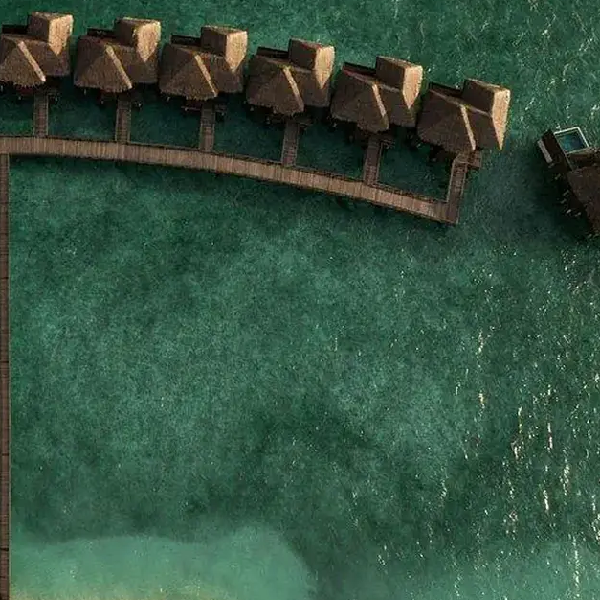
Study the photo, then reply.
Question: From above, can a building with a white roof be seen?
No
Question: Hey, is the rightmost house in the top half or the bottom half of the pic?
top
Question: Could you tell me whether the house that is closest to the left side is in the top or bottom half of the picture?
top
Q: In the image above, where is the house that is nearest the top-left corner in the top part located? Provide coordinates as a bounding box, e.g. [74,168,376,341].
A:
[0,12,73,110]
